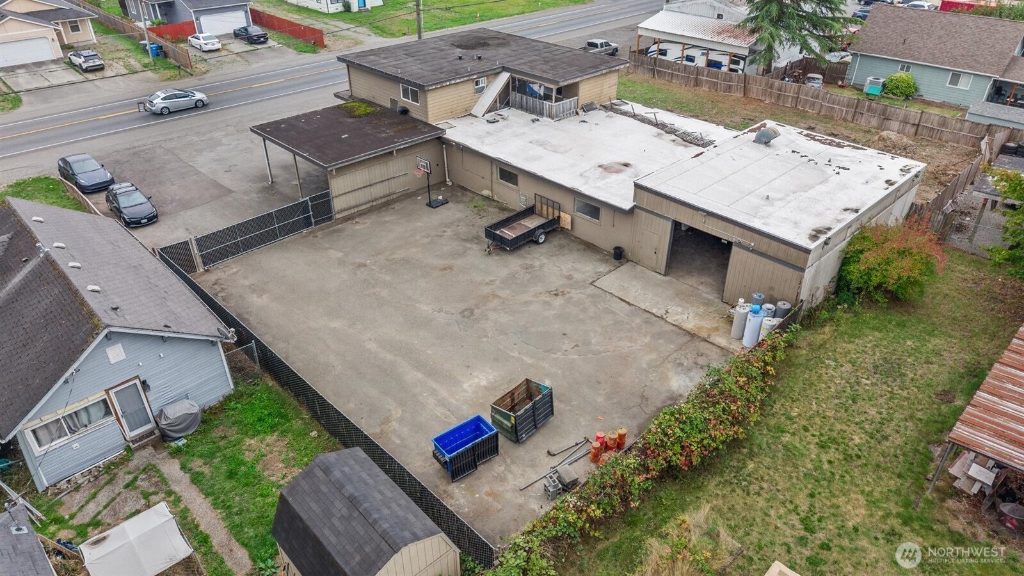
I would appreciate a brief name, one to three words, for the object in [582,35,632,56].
truck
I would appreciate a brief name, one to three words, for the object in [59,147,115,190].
car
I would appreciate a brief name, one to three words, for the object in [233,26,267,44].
car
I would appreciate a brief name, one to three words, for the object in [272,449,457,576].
shed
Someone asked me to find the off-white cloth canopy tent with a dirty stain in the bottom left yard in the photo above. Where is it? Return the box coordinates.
[78,502,206,576]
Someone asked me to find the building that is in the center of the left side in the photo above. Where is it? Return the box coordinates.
[0,197,236,490]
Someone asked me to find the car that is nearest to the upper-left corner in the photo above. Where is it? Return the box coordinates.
[69,48,103,71]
